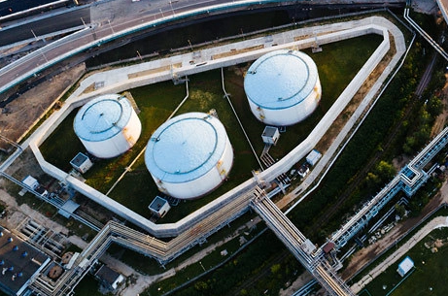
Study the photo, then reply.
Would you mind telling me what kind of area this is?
industrial area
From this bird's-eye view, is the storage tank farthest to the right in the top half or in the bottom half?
top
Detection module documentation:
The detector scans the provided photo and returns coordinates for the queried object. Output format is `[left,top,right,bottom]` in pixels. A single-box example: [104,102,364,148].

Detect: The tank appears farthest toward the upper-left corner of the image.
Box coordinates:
[74,95,145,160]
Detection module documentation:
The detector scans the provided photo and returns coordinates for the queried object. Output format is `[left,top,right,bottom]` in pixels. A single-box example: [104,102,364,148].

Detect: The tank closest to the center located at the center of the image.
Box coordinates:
[146,115,237,205]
